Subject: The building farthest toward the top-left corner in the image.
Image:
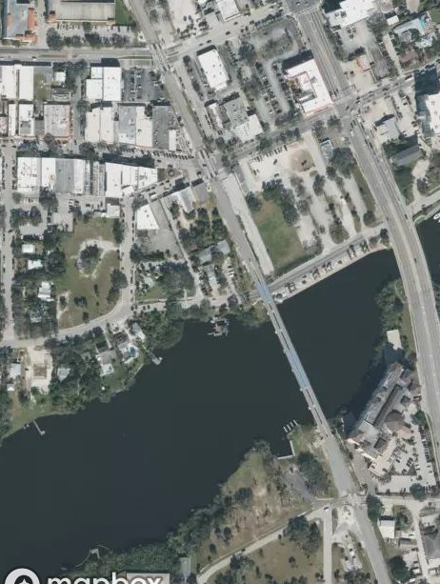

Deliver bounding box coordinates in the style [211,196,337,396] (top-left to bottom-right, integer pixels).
[2,0,34,41]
